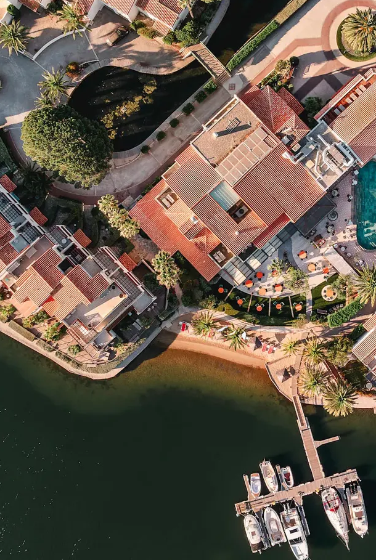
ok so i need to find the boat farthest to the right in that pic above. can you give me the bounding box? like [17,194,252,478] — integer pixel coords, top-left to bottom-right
[346,482,367,534]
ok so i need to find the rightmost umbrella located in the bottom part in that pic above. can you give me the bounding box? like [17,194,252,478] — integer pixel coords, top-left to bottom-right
[276,367,292,384]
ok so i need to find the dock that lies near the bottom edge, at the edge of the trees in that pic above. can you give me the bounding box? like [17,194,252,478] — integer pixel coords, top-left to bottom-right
[233,395,361,548]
